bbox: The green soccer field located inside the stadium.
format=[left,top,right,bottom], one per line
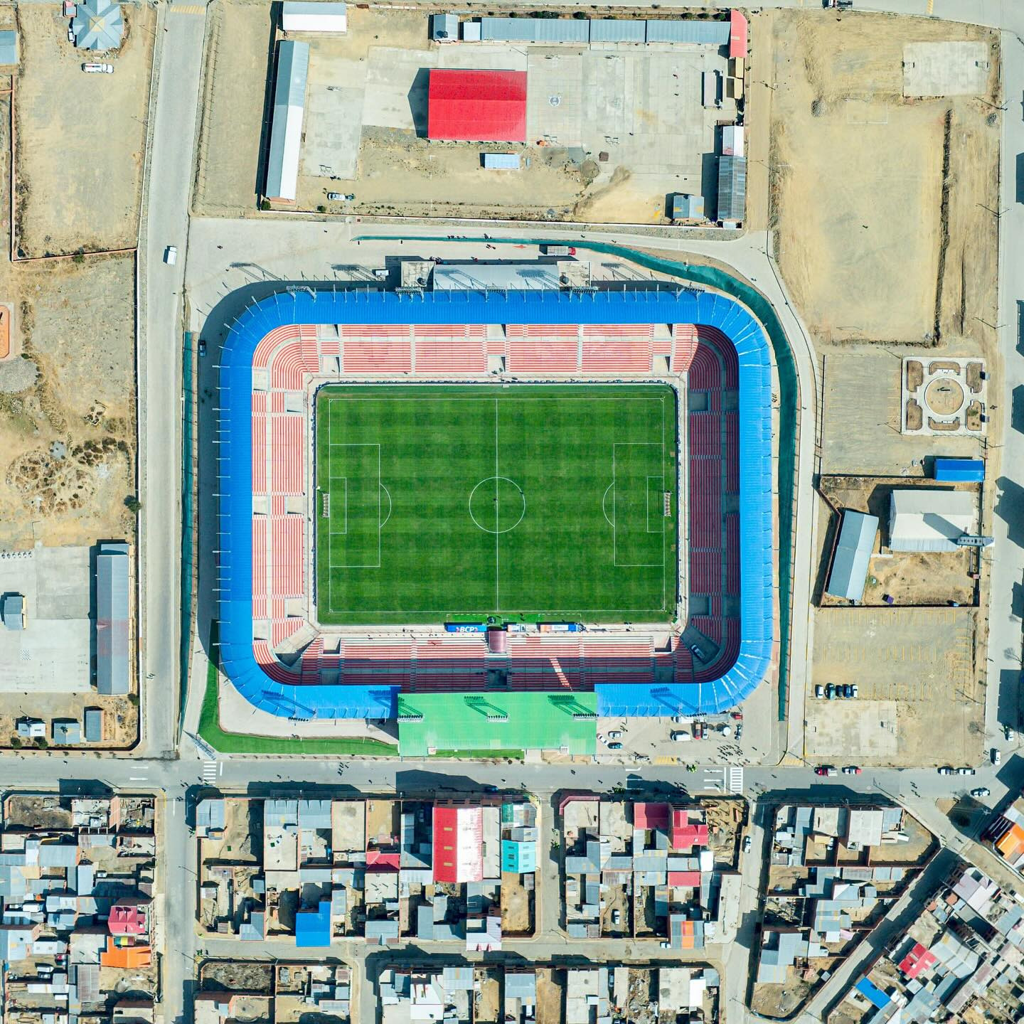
[317,384,677,625]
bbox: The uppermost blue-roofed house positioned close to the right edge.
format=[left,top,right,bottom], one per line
[929,459,986,482]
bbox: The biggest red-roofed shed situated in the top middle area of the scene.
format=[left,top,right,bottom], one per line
[428,70,526,149]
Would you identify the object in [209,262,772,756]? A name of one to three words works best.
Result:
stadium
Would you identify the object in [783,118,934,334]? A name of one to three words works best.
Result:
soccer field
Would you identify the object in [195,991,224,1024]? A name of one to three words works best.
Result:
house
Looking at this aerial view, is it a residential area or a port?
residential area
